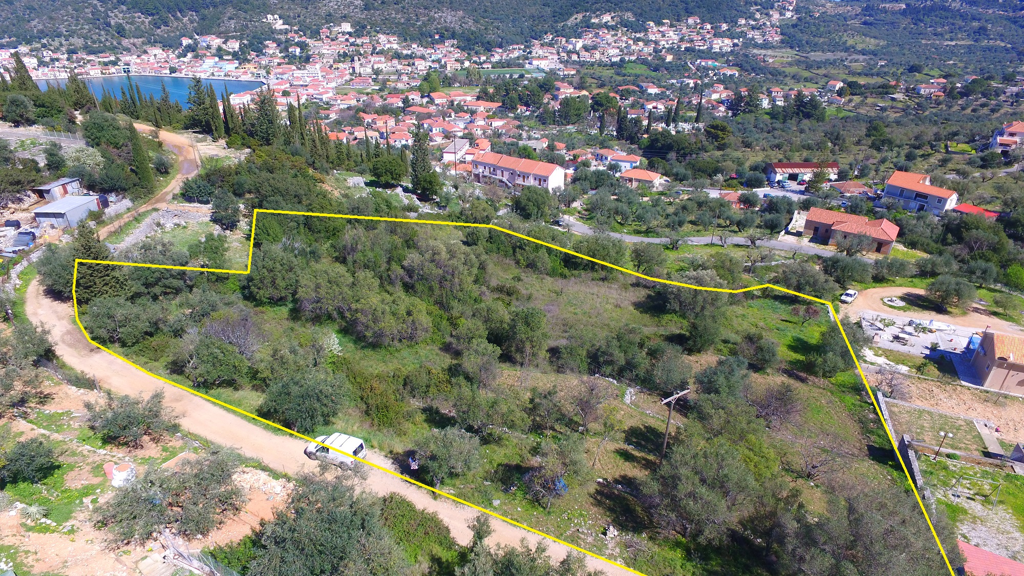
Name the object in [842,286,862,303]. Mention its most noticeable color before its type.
white car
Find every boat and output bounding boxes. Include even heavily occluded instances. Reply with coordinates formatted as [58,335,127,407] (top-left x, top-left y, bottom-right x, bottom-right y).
[908,313,961,334]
